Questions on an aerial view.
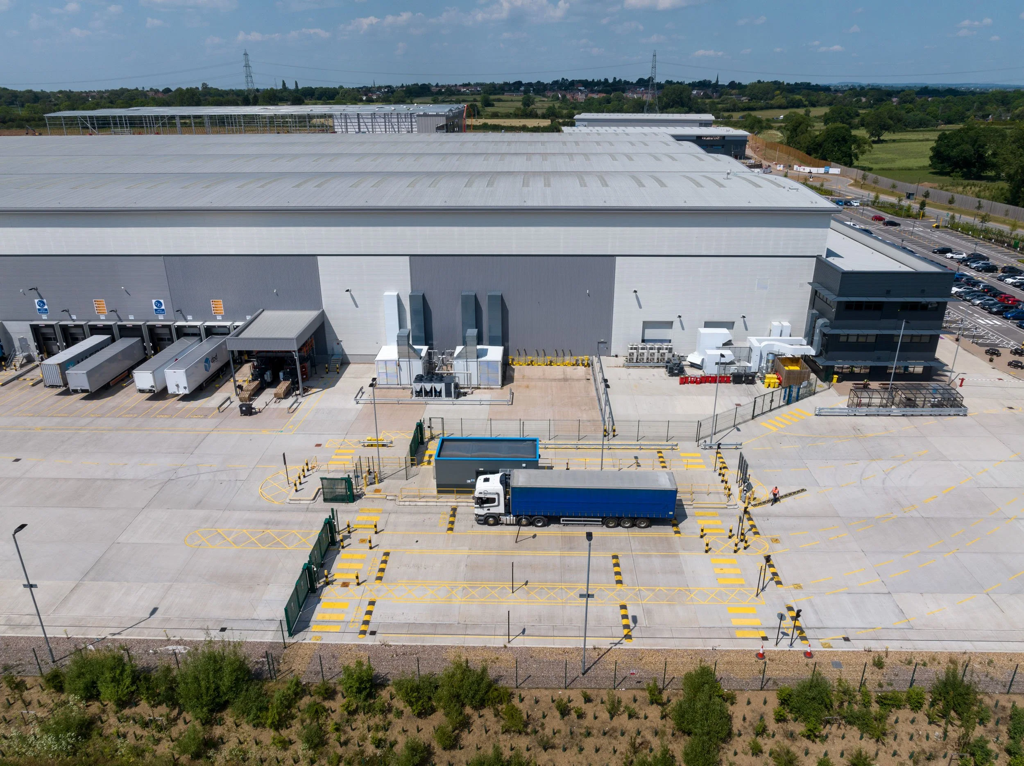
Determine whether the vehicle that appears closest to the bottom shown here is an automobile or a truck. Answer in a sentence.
It looks like the vehicle that appears closest to the bottom is a truck.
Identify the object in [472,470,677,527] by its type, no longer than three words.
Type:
truck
